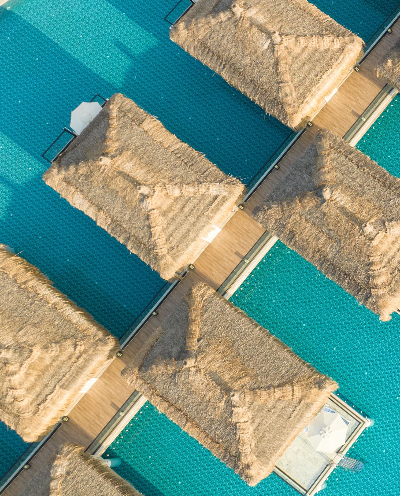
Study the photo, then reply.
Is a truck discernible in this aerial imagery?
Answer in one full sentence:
No, the scene contains no truck.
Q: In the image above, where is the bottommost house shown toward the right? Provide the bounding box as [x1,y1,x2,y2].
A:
[120,278,374,496]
